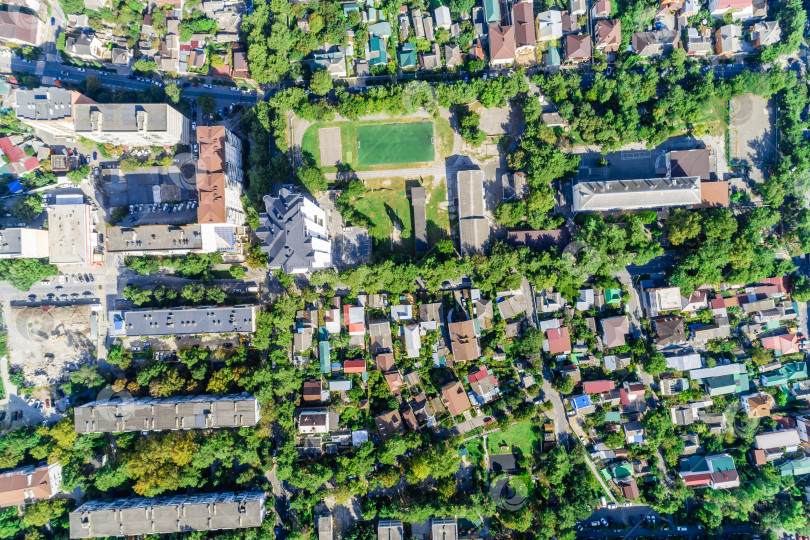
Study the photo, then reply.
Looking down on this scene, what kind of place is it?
residential area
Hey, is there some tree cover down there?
Yes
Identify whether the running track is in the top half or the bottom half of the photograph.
top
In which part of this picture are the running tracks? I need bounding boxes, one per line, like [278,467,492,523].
[292,108,464,182]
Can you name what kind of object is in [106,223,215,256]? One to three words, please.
building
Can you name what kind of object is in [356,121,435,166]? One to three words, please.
soccer field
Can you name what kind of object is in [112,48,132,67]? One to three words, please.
house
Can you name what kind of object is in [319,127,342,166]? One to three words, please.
sports court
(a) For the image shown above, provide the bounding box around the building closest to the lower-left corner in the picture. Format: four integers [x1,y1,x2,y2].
[0,459,65,504]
